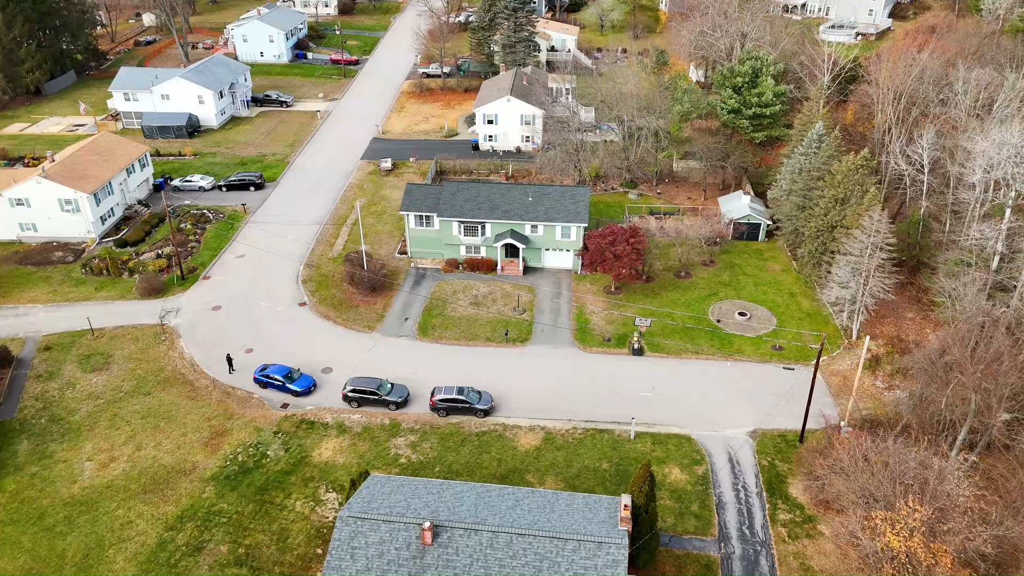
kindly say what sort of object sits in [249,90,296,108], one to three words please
vehicle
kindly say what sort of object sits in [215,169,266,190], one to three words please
car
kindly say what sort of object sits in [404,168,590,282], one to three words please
building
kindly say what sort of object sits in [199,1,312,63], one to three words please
house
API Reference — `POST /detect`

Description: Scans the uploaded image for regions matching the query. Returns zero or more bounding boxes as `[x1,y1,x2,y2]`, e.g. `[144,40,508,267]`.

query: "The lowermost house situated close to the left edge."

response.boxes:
[0,128,156,247]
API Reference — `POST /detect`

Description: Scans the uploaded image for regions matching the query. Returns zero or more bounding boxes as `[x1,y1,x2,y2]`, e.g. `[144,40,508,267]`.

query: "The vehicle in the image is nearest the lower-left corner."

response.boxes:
[251,361,316,396]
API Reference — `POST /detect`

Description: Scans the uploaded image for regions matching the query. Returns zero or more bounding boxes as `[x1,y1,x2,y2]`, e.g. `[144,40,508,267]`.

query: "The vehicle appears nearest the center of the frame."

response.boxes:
[428,382,496,418]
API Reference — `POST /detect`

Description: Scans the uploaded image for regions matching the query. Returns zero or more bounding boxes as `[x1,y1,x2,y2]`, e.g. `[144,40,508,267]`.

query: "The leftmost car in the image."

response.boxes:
[169,172,216,191]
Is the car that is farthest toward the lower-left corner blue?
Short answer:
Yes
